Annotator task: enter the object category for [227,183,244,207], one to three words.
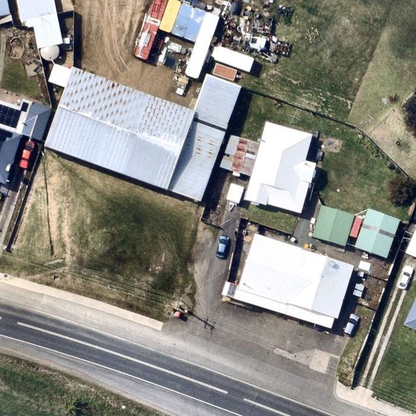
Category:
camper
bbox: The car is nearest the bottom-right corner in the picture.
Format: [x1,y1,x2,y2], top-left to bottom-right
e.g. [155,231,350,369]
[343,313,360,337]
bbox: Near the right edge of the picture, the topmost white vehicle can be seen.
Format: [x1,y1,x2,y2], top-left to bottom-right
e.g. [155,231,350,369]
[398,265,414,291]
